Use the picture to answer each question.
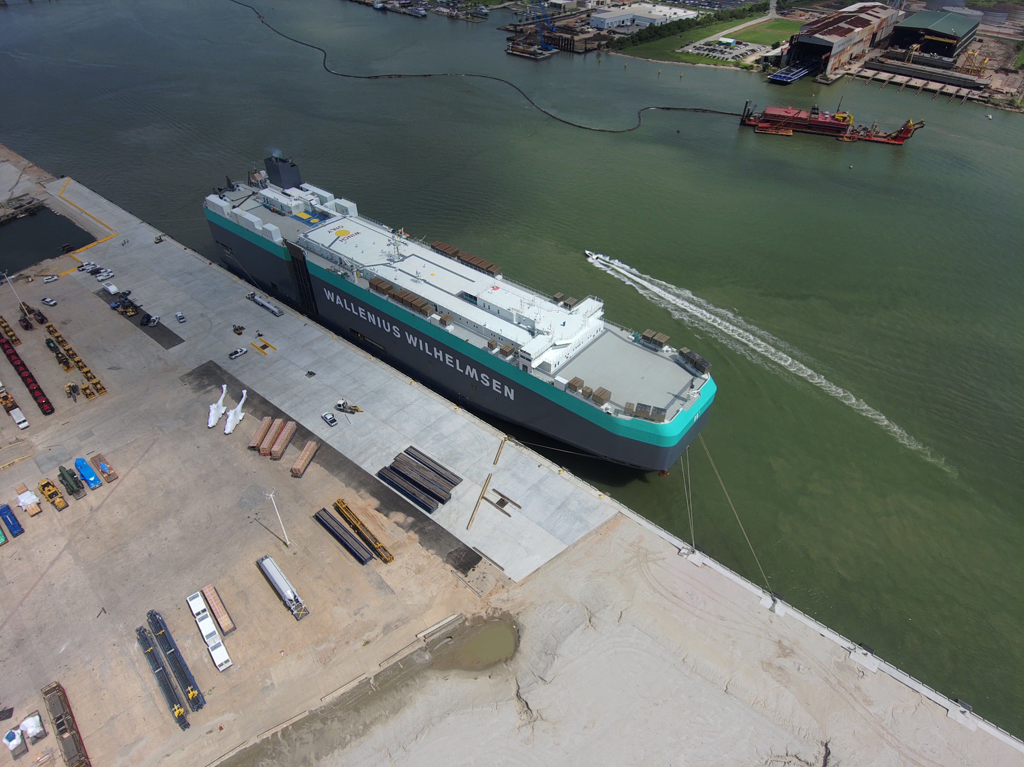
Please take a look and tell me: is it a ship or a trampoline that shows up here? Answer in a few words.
ship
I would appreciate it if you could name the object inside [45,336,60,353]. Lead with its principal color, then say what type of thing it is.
black work vehicle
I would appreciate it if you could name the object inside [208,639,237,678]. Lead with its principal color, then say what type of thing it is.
white vehicle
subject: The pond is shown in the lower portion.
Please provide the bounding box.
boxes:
[459,625,518,668]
